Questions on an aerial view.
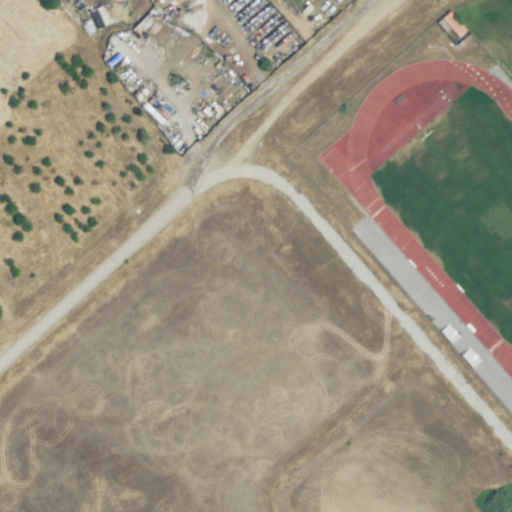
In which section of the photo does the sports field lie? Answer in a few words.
right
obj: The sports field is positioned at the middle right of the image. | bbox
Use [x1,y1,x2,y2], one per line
[371,86,512,348]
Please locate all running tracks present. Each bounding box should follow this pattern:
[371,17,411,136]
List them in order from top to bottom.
[320,60,512,380]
